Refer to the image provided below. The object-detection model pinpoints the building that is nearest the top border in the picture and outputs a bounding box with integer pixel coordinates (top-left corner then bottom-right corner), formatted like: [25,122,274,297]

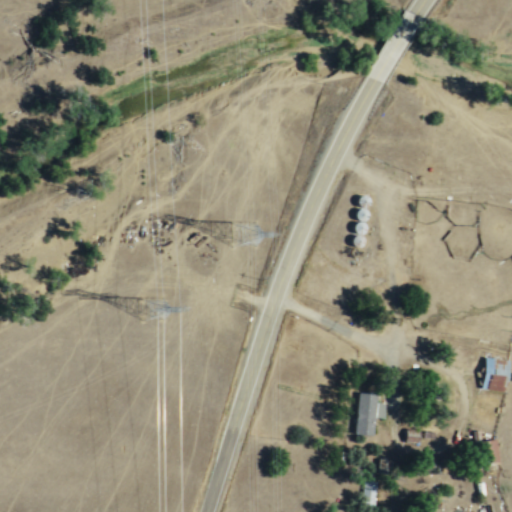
[480,358,510,392]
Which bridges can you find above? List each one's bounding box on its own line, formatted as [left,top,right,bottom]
[366,14,428,82]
